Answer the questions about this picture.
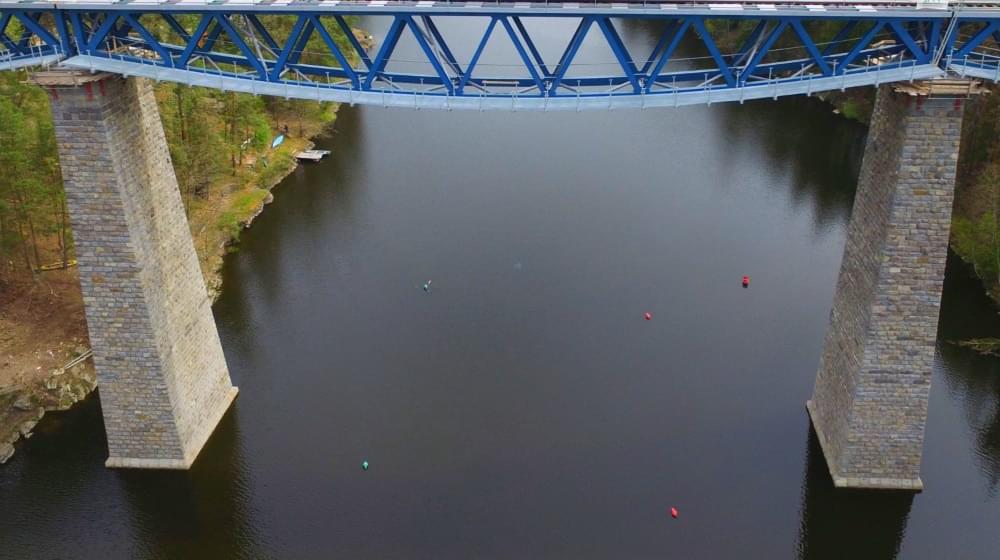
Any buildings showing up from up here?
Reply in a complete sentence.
No, there appears to be no building in this shot.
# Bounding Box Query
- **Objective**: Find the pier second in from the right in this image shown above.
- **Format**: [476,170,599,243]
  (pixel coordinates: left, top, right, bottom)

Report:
[294,150,333,162]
